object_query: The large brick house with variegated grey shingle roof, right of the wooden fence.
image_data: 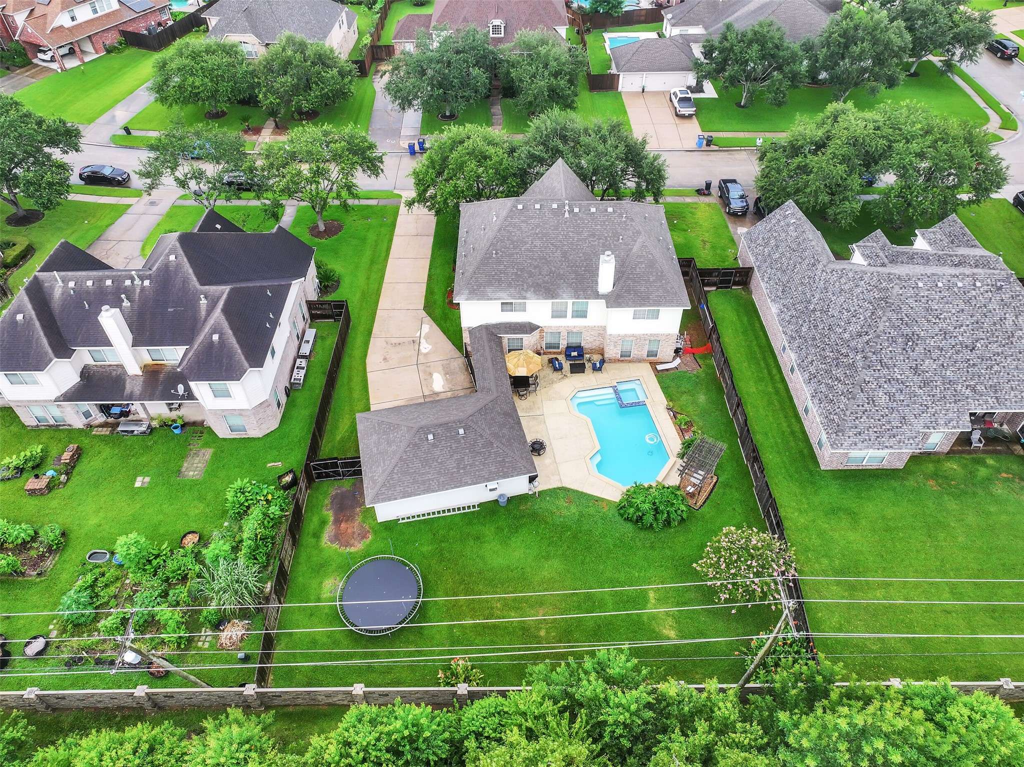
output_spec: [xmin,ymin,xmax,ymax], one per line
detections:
[739,199,1024,471]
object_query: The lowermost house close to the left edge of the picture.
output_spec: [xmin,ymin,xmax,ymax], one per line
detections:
[0,208,321,437]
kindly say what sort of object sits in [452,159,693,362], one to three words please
house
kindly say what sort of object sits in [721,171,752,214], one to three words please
truck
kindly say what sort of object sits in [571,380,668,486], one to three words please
swimming pool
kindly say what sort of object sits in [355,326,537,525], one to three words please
building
